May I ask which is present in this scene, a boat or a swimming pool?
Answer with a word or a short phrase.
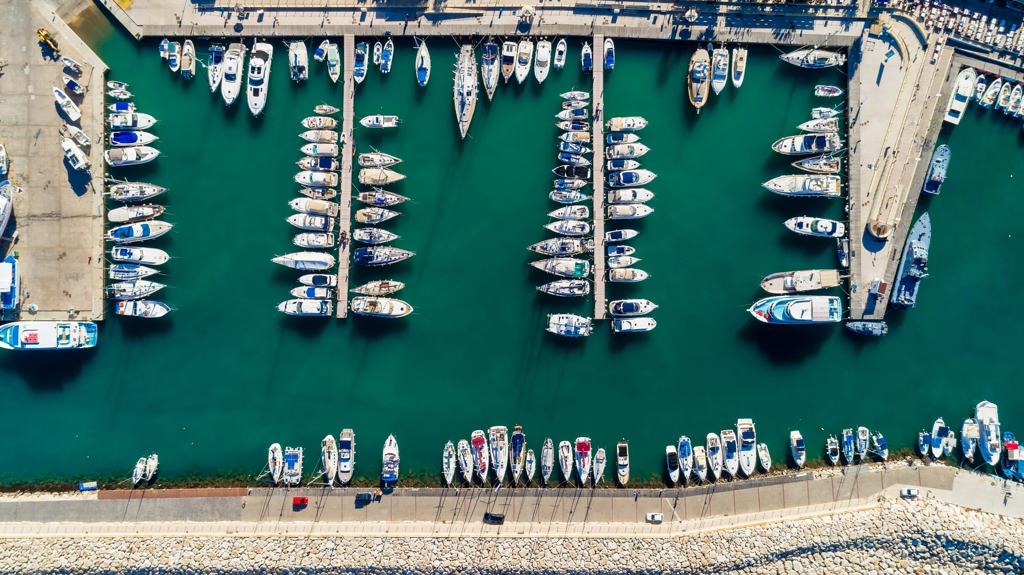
boat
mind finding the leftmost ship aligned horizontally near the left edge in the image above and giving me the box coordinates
[0,320,104,351]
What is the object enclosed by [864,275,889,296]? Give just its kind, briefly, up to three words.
shed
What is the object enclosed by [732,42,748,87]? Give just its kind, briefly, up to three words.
boat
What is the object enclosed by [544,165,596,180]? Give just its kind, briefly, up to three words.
boat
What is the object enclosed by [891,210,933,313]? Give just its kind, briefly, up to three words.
ship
